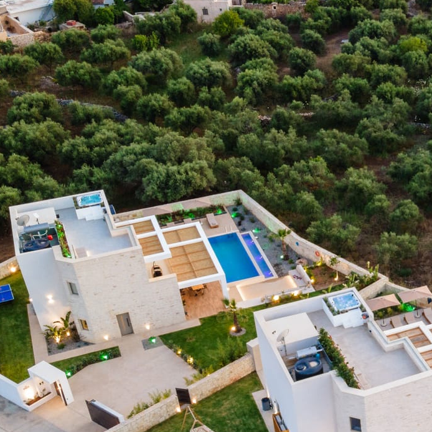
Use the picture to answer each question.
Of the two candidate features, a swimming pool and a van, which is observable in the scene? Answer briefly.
swimming pool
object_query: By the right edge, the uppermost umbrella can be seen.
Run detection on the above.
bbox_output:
[398,284,432,302]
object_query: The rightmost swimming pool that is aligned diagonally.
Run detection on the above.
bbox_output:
[238,229,276,272]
